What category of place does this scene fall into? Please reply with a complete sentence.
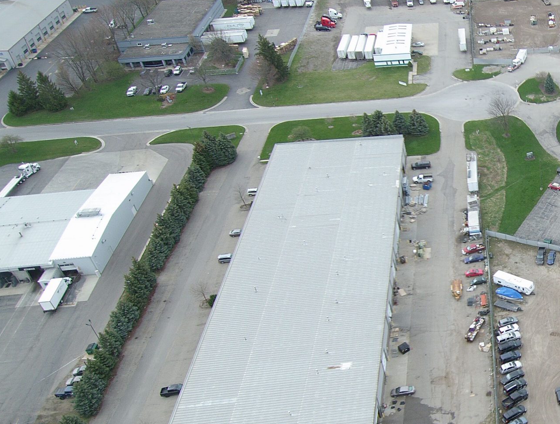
This looks like an industrial area.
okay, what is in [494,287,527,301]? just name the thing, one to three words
boat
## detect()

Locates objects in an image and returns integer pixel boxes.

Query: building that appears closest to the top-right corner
[369,23,415,75]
